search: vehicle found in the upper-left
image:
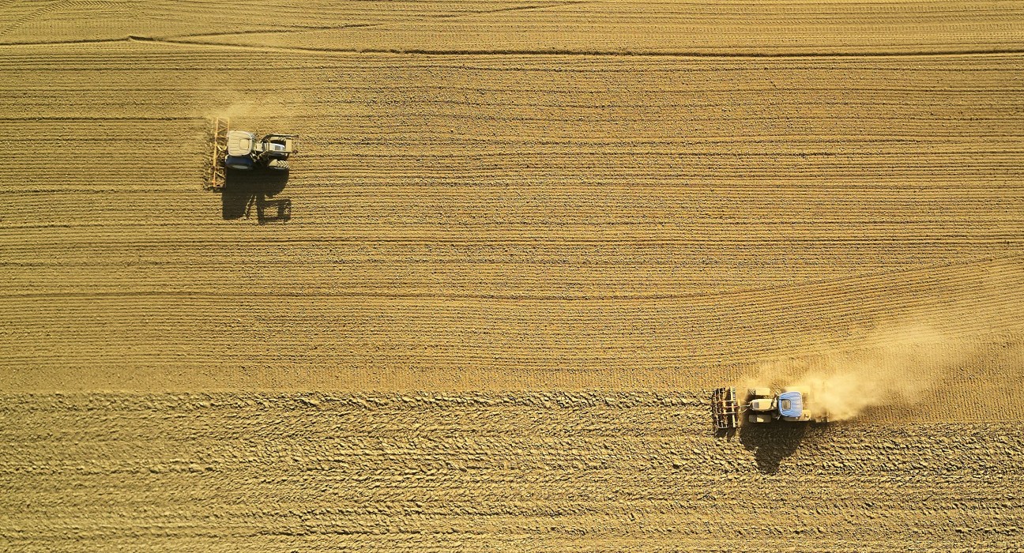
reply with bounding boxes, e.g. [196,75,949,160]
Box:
[222,126,299,170]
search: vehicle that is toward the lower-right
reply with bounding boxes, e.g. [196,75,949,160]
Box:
[741,386,813,425]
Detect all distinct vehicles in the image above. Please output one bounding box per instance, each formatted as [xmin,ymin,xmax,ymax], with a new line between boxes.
[741,386,813,425]
[222,126,299,170]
